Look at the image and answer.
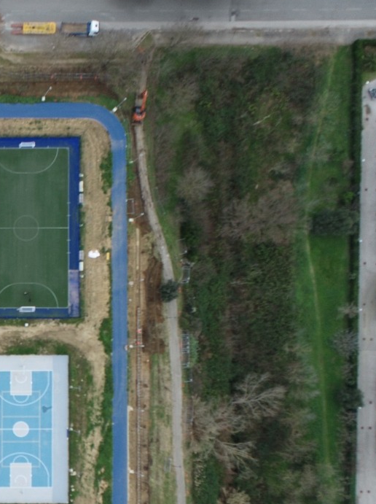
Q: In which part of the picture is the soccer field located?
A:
left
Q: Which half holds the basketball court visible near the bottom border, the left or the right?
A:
left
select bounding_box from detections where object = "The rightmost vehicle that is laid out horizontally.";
[58,21,96,36]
